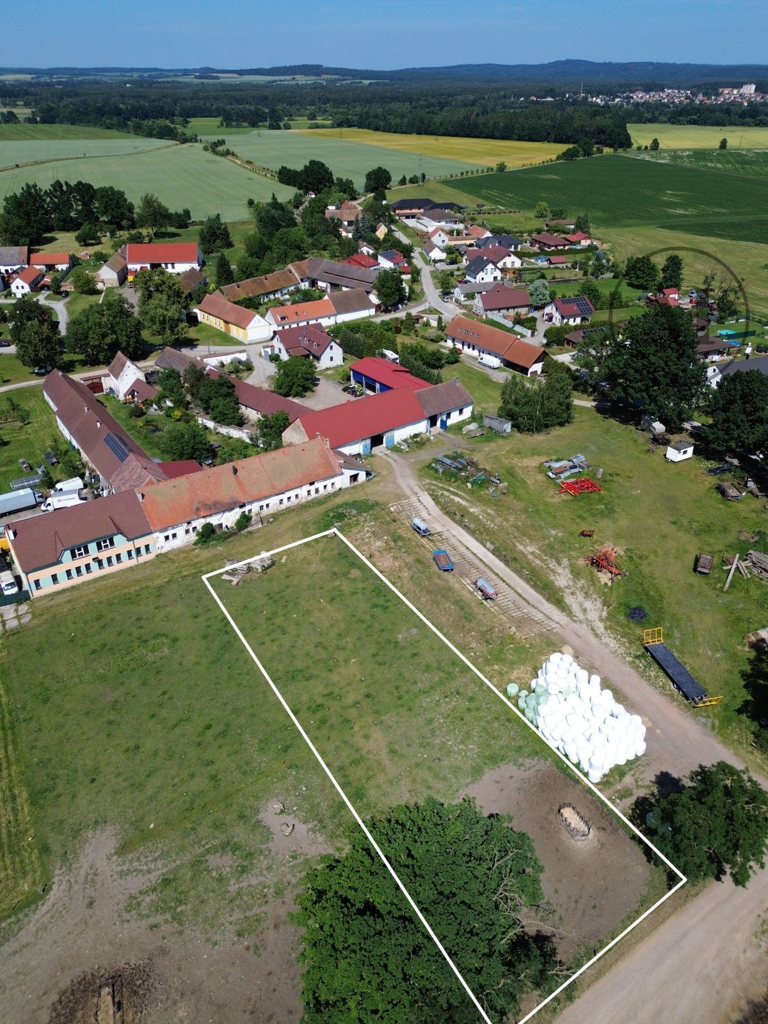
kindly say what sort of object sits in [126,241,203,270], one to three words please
barn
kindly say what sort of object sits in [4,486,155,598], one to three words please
building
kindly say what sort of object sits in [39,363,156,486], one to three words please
house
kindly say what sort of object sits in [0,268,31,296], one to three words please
house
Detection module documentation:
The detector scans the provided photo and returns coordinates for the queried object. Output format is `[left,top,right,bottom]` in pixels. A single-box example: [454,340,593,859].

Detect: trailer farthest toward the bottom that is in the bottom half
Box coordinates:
[644,629,713,703]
